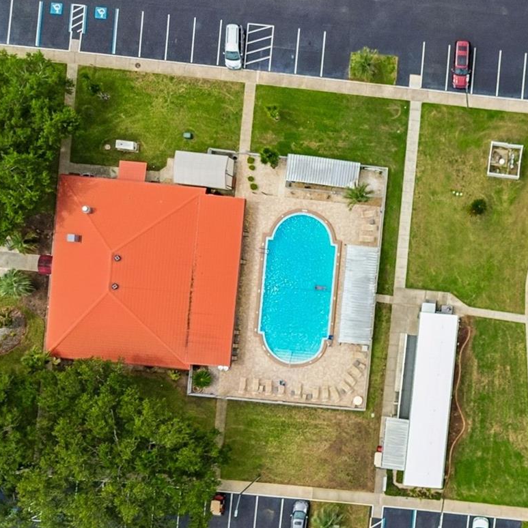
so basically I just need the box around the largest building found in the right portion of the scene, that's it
[382,301,459,489]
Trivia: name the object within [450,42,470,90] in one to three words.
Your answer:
car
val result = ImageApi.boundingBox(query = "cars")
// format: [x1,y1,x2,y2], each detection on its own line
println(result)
[222,23,243,69]
[450,42,470,90]
[290,499,310,528]
[473,515,489,528]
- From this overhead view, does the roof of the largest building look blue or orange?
orange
